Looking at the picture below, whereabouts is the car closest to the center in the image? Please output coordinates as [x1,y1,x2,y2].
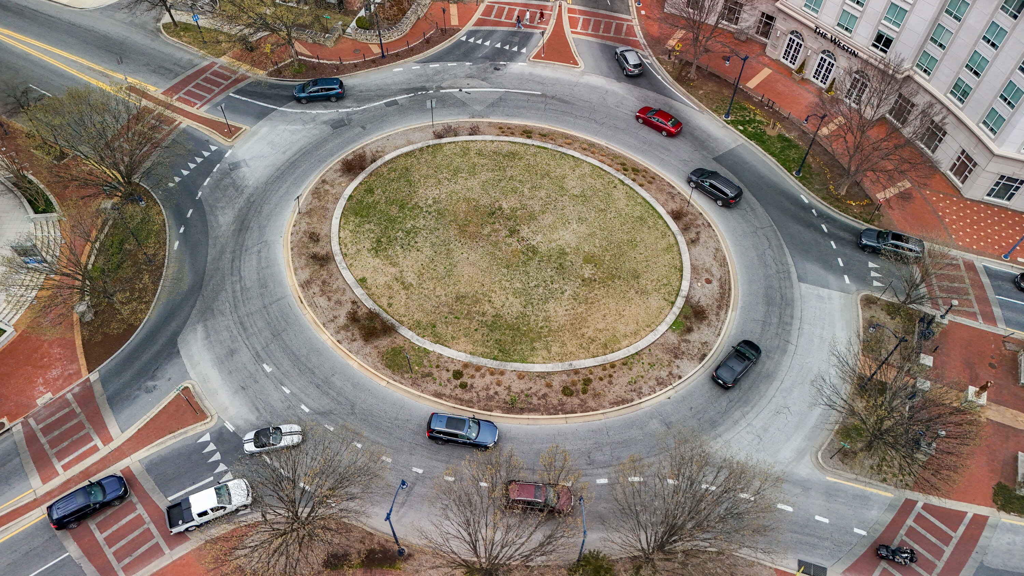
[424,411,499,452]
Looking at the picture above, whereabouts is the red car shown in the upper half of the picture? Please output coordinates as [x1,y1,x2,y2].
[634,106,685,139]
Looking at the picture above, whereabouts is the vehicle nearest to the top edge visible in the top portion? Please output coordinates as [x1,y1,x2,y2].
[614,47,645,79]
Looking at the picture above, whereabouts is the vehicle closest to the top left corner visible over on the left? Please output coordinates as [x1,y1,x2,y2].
[294,78,344,104]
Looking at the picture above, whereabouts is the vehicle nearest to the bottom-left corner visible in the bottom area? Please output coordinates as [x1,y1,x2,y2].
[40,474,129,536]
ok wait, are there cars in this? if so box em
[501,477,573,514]
[40,474,129,536]
[244,419,304,455]
[634,106,685,139]
[424,411,499,452]
[294,78,344,104]
[863,229,931,265]
[710,338,765,392]
[686,168,745,210]
[614,47,645,79]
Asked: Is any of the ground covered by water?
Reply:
No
